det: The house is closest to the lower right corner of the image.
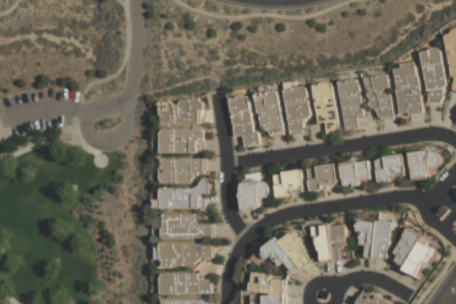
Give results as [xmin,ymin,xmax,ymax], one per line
[401,240,436,278]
